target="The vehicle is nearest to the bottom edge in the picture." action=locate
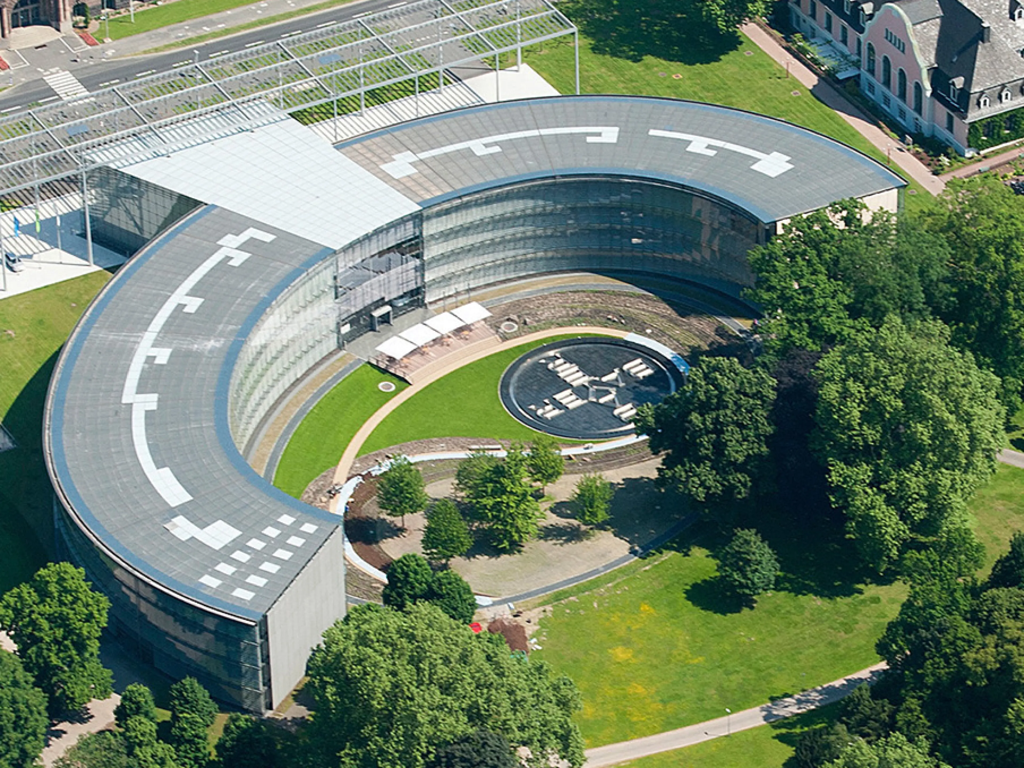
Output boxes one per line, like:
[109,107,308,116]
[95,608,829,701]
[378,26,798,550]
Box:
[3,249,24,267]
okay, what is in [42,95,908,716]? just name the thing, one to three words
building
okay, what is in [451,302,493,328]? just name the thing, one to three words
umbrella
